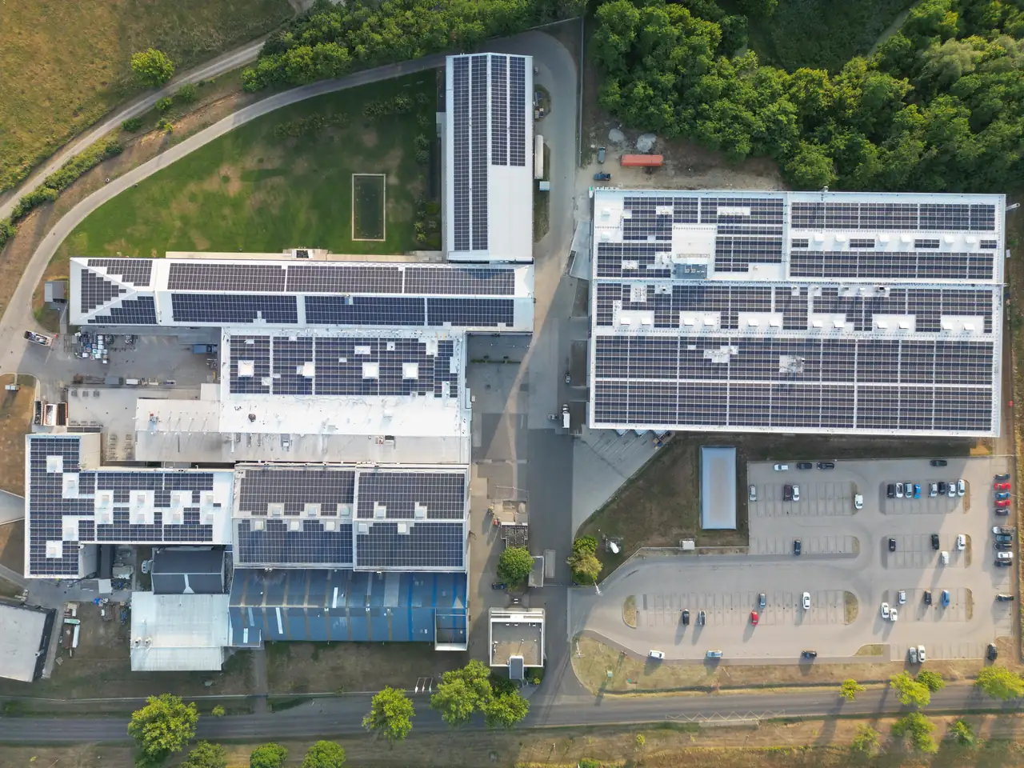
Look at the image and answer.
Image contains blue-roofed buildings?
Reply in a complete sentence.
Yes, there is a blue-roofed building in the image.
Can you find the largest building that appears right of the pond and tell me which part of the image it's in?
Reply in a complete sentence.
Look in the right portion of the view to spot the largest building that appears right of the pond.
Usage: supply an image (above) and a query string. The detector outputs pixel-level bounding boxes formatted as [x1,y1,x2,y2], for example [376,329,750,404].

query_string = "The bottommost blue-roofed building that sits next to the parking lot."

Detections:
[228,570,470,646]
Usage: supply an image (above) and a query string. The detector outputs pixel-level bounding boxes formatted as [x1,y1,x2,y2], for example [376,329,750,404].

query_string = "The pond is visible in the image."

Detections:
[352,173,386,241]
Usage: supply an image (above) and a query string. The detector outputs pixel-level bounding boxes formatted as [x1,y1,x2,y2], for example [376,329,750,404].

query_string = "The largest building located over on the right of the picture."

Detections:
[586,188,1007,443]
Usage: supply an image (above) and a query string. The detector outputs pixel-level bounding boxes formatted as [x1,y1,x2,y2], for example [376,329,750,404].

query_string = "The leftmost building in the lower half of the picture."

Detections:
[0,596,56,681]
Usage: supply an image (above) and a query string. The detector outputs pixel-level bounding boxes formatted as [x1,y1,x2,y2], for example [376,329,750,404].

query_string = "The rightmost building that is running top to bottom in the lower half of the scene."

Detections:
[698,447,736,530]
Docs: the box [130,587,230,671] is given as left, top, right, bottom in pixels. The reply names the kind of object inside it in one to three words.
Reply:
shed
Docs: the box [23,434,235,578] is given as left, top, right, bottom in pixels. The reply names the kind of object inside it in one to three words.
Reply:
building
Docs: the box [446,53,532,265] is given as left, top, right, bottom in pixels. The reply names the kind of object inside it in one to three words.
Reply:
building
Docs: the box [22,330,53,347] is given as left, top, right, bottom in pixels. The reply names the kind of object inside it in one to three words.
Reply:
vehicle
